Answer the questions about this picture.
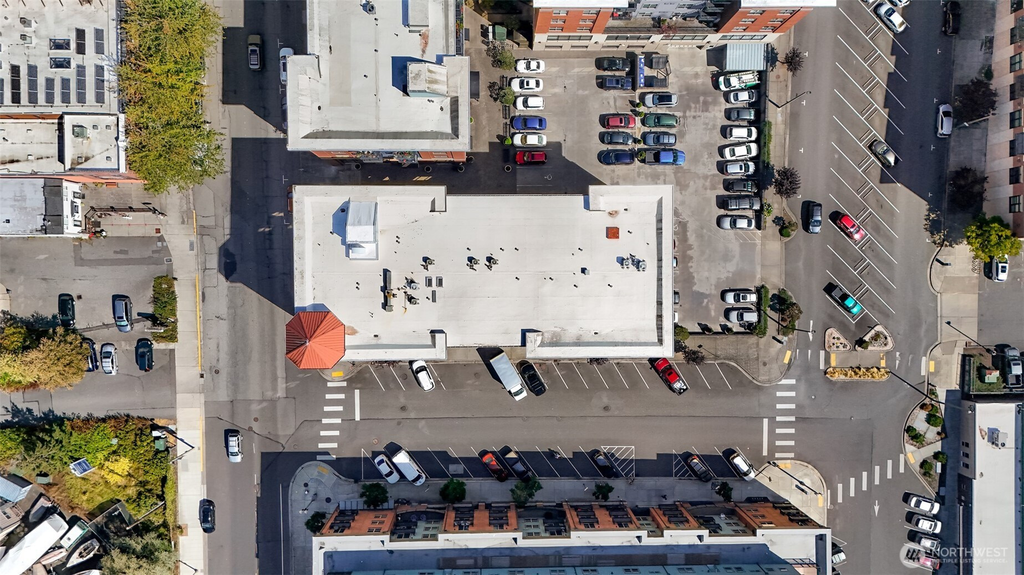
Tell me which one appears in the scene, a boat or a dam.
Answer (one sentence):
Visible in the photo is a boat.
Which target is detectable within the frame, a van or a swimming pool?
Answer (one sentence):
I can see a van in this picture.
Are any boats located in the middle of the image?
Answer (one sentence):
No, I see no boat in the middle of the image.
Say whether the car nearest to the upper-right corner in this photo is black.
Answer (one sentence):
Yes, the car nearest to the upper-right corner is indeed black.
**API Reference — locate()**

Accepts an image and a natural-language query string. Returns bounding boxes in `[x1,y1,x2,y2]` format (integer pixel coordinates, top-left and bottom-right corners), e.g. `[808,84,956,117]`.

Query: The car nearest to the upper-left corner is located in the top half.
[246,34,263,71]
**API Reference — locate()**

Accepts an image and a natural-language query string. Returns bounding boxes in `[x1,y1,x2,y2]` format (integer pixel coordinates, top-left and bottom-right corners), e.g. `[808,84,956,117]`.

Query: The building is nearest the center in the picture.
[285,185,674,370]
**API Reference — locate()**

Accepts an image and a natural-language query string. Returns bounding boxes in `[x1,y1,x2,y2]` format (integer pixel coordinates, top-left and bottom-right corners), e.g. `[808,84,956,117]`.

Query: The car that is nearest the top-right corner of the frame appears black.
[940,0,961,37]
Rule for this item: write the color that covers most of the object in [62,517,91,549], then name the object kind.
white boat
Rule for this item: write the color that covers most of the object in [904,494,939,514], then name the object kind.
white car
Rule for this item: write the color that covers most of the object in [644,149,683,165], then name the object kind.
blue vehicle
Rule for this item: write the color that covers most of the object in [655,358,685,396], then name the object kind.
red truck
